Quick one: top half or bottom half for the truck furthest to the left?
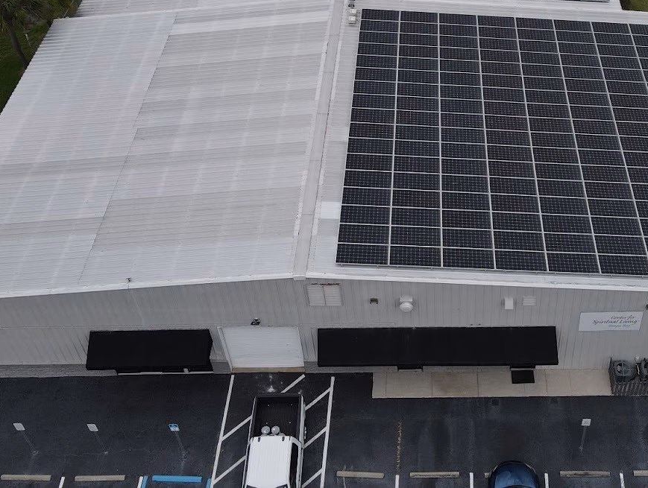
bottom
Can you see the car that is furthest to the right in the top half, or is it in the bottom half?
bottom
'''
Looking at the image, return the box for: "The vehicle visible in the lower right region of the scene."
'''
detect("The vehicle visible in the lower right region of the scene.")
[486,461,544,488]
